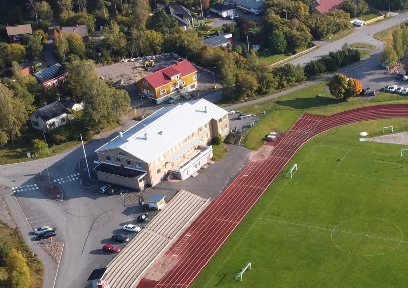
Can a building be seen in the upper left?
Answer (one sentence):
Yes, a building can be seen in the upper left.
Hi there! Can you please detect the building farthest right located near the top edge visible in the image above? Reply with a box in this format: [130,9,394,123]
[307,0,344,17]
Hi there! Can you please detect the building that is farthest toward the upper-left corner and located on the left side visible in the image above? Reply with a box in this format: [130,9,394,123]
[7,23,34,44]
